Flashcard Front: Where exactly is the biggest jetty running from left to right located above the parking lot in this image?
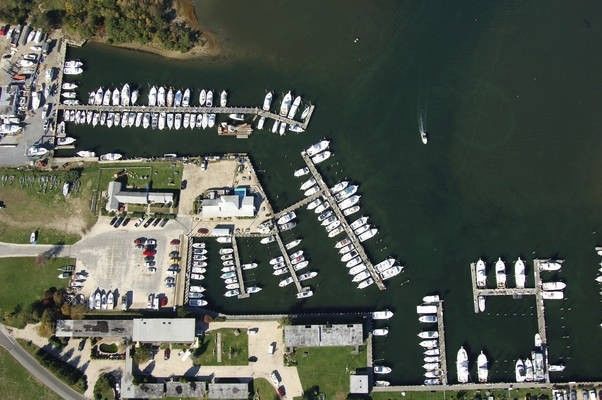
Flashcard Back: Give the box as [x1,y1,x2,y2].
[59,104,315,130]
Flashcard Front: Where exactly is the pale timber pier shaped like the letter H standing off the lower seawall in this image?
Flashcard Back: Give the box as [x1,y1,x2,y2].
[470,258,564,384]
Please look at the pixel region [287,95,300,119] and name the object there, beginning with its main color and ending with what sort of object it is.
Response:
white boat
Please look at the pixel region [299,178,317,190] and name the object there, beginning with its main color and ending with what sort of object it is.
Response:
white boat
